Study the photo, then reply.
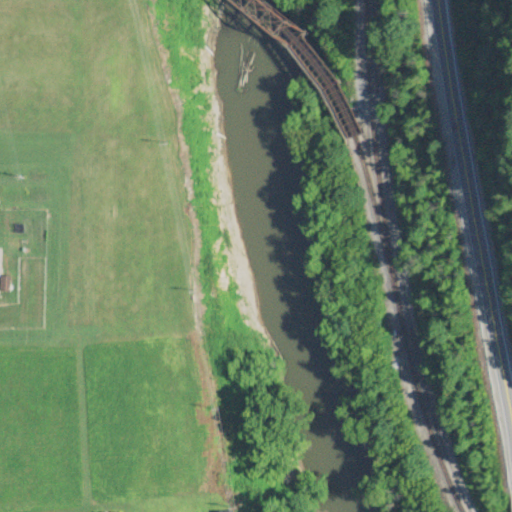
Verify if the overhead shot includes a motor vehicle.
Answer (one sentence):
No, no motor vehicle can be seen from above.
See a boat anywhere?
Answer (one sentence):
No, there appears to be no boat in this shot.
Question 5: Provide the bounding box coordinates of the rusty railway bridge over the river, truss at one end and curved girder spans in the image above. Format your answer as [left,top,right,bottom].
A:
[230,0,360,136]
